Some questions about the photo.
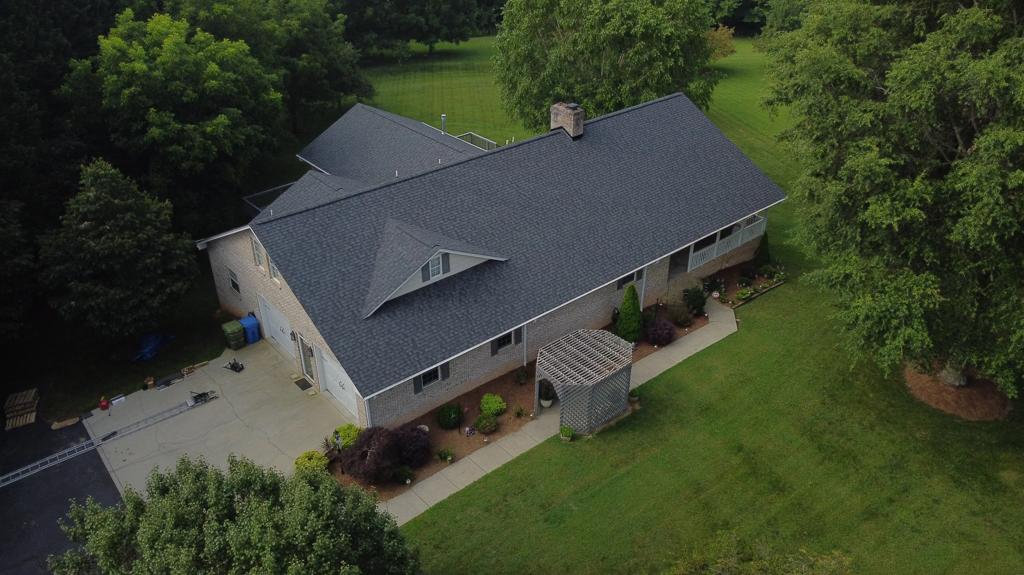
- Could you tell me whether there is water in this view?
No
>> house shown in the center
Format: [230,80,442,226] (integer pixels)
[194,93,787,430]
